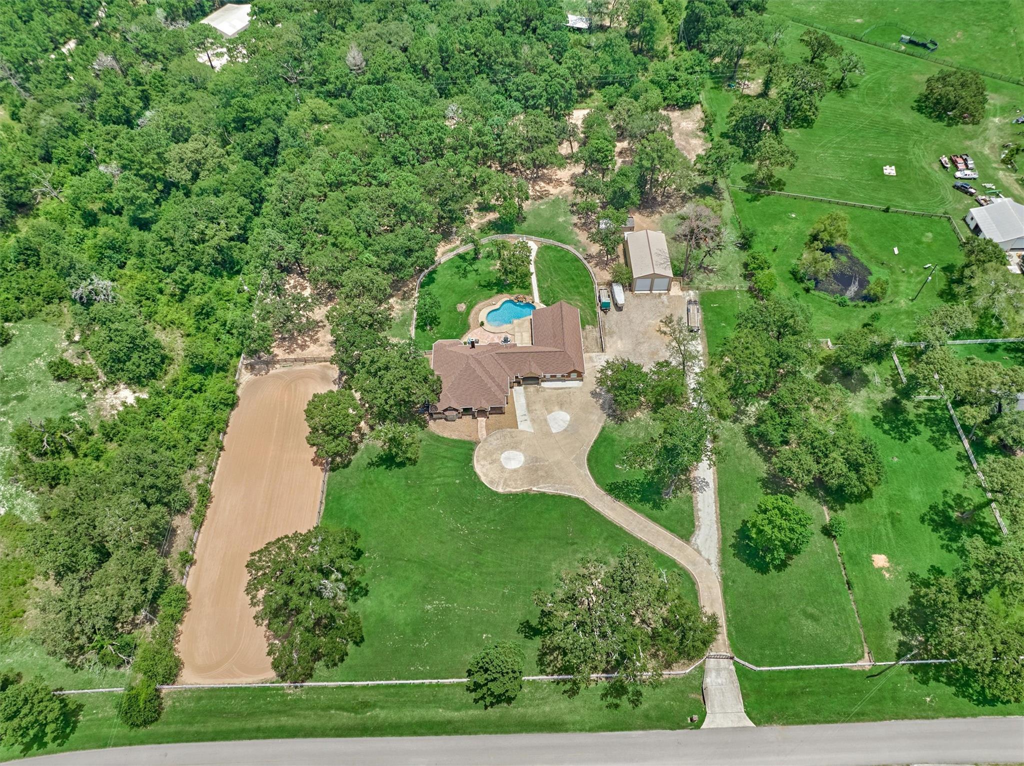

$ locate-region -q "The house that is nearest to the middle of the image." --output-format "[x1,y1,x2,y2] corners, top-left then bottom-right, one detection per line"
[427,302,585,422]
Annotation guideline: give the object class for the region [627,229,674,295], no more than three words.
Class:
building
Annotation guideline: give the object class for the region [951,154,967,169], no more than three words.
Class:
vehicle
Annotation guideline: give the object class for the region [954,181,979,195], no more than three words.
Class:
vehicle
